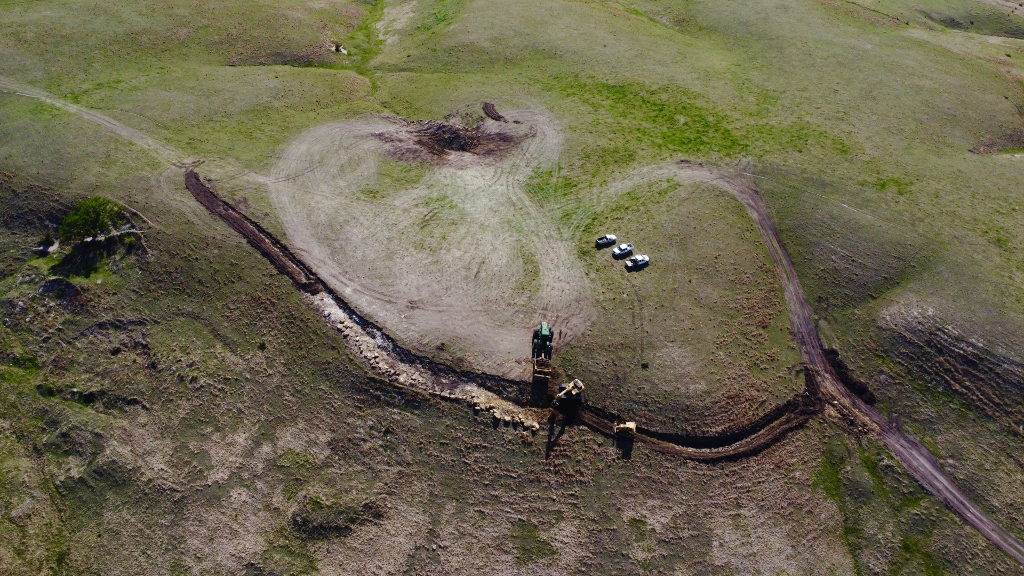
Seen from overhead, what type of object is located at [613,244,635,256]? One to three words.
vehicle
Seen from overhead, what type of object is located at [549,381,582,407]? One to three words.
work vehicle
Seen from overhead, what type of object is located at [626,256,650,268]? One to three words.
vehicle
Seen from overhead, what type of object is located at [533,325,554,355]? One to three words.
work vehicle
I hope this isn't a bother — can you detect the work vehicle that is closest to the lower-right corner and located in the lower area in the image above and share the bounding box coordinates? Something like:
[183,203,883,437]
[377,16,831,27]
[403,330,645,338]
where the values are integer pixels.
[612,422,636,440]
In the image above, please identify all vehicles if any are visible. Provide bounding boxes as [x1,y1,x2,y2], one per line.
[549,381,582,407]
[533,325,554,355]
[626,256,650,268]
[613,244,635,256]
[612,422,636,440]
[596,235,618,246]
